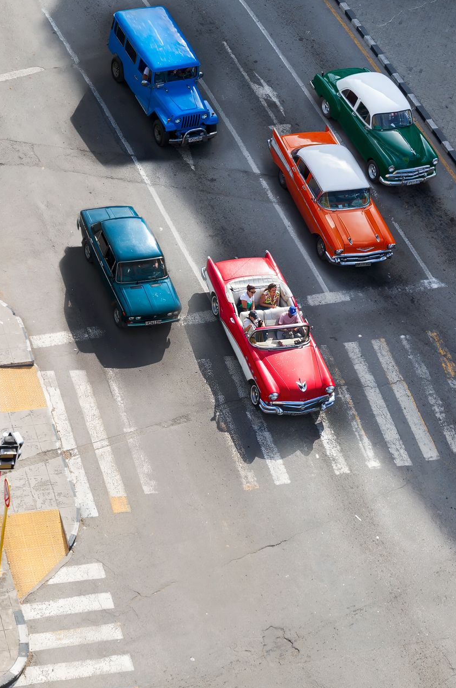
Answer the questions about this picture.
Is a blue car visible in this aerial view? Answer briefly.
Yes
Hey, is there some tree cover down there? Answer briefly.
No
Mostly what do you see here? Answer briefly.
paved ground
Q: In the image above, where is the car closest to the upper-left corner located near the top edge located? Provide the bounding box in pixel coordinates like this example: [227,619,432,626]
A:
[109,8,224,146]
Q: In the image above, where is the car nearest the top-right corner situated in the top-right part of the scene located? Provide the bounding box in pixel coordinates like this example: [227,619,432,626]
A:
[313,73,441,188]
